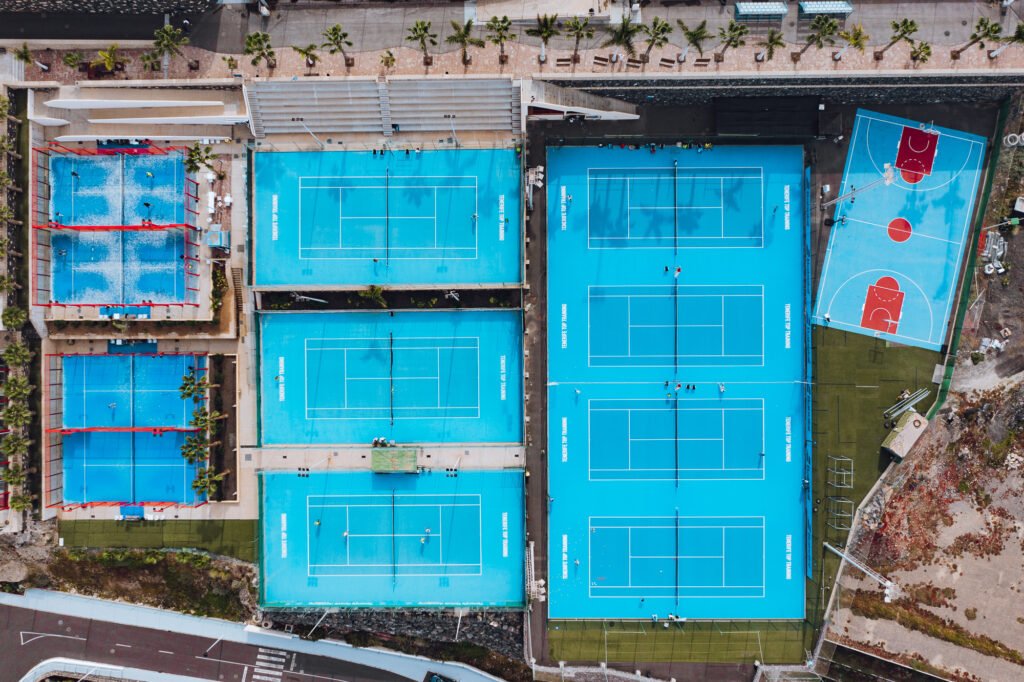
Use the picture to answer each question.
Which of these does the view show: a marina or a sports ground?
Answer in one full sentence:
This looks like a sports ground.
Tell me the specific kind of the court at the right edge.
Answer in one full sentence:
It turns out the court at the right edge is a basketball court.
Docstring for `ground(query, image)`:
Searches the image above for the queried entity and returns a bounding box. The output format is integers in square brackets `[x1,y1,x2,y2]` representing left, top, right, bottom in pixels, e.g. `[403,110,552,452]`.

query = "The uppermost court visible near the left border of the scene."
[28,144,201,229]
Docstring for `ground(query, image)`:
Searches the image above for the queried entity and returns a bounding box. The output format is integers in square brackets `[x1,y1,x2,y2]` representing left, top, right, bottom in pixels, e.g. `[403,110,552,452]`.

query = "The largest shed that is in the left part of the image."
[372,446,419,471]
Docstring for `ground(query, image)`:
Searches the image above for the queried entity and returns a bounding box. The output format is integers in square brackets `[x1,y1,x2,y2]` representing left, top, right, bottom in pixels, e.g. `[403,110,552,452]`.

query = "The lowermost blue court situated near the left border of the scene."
[42,430,208,514]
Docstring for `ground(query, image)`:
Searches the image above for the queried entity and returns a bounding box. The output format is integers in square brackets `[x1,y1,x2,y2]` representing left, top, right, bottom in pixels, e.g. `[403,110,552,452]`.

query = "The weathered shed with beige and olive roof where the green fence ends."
[881,411,928,458]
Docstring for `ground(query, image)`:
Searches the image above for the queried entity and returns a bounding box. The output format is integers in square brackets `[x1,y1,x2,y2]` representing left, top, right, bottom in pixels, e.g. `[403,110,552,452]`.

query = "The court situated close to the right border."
[812,108,988,351]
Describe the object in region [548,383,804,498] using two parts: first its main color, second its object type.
blue tennis court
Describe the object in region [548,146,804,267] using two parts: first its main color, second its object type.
blue tennis court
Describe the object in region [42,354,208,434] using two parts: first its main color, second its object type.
blue sports court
